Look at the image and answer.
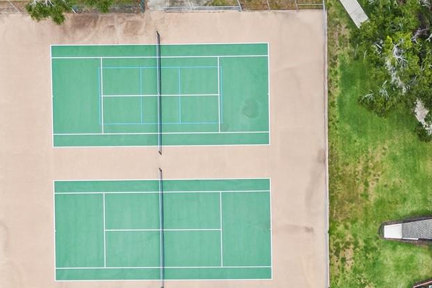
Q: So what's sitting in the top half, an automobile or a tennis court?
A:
tennis court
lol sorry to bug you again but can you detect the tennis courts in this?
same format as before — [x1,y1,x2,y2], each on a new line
[54,168,272,288]
[50,32,270,154]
